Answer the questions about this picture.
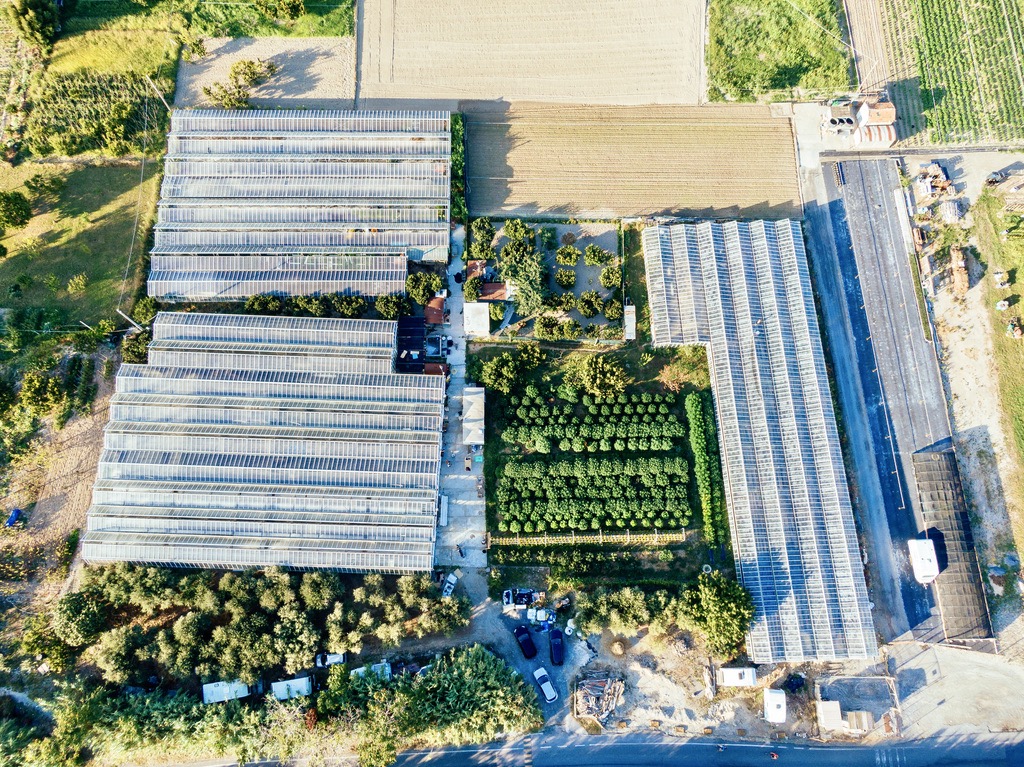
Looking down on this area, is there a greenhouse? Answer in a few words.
Yes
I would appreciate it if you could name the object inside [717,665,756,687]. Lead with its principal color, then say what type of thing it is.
white camper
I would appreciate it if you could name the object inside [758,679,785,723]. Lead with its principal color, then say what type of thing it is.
white camper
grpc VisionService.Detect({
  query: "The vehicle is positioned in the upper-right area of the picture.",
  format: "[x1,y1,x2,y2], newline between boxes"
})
[986,164,1010,186]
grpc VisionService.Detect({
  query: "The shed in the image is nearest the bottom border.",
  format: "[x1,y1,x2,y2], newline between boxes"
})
[814,699,841,729]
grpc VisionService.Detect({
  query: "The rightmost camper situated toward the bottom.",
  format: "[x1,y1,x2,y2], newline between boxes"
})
[905,540,942,593]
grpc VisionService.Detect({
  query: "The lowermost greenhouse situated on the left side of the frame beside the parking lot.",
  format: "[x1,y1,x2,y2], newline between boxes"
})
[80,312,447,571]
